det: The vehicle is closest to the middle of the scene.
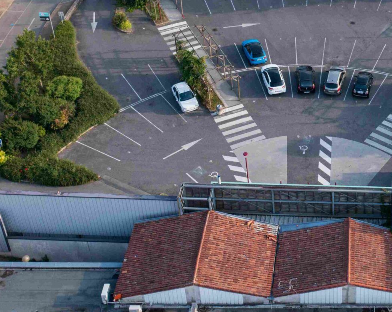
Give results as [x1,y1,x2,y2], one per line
[169,77,197,110]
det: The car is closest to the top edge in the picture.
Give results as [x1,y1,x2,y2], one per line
[240,37,267,66]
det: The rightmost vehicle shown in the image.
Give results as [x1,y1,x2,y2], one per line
[354,68,377,95]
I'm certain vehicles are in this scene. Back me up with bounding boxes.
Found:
[262,64,286,93]
[295,65,315,93]
[169,77,197,110]
[354,68,377,95]
[324,63,348,94]
[240,37,267,66]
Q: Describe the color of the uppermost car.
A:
blue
